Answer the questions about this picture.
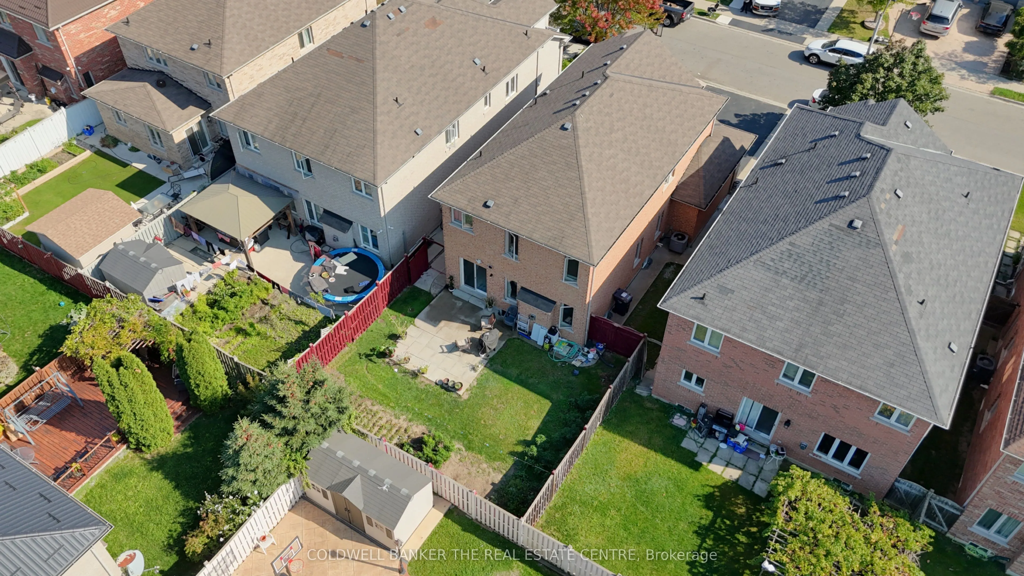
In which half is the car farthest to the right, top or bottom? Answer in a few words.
top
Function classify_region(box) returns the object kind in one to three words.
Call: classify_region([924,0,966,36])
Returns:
car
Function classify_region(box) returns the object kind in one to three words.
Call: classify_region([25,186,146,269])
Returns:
shed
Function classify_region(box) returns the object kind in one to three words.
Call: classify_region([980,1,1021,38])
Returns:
car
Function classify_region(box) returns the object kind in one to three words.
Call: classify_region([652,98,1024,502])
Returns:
house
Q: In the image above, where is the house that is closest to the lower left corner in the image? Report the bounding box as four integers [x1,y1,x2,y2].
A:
[0,443,120,576]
